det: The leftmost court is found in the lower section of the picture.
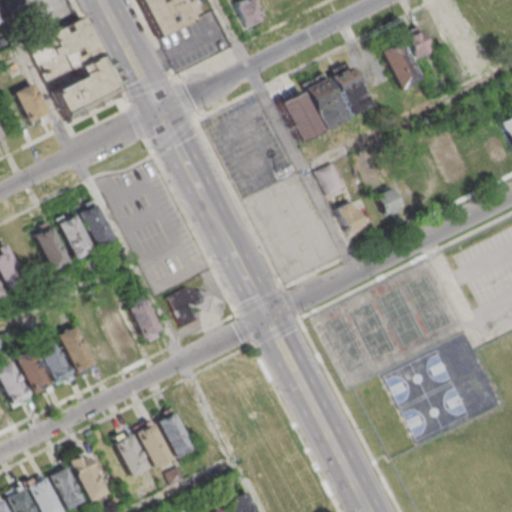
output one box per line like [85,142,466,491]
[323,316,367,375]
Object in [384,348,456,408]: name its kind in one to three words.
basketball court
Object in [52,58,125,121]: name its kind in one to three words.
building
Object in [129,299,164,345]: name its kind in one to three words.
house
